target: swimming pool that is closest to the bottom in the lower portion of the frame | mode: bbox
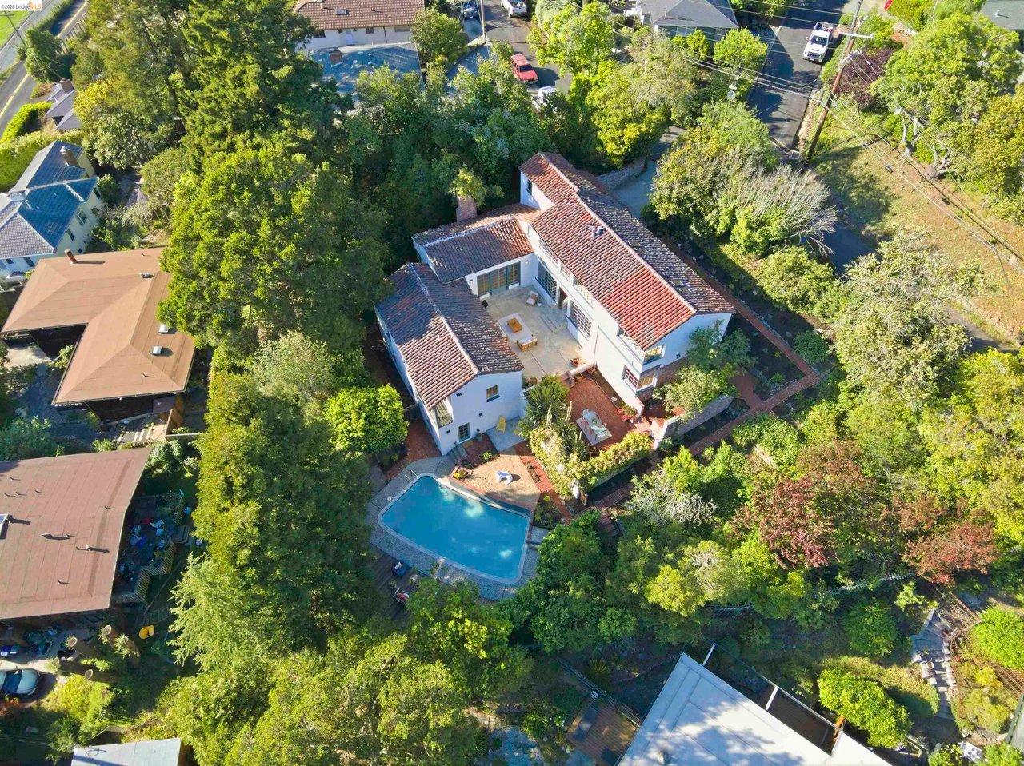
[383,473,529,579]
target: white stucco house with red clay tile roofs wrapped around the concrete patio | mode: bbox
[370,145,739,460]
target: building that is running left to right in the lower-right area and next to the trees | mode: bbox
[615,642,893,766]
